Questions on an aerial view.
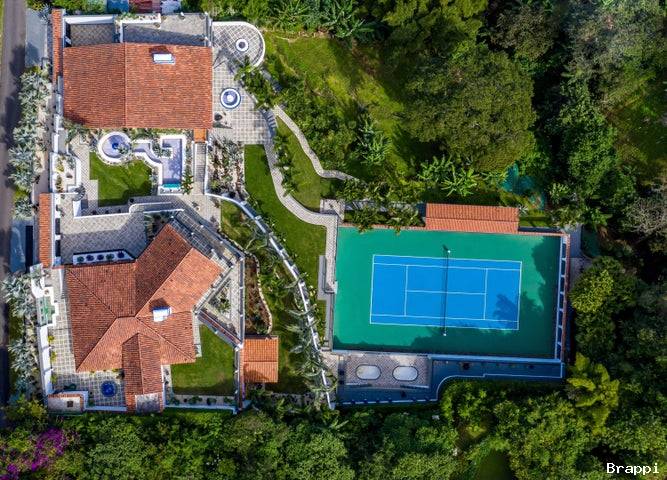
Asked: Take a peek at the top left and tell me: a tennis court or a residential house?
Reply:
residential house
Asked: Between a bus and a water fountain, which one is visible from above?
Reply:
water fountain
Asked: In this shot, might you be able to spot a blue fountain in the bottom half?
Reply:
Yes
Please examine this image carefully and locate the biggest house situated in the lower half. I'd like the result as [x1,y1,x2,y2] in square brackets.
[65,224,223,412]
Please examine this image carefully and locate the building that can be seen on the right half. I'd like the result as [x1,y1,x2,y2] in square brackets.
[425,203,519,234]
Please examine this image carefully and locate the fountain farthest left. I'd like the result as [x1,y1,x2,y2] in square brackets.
[37,286,61,329]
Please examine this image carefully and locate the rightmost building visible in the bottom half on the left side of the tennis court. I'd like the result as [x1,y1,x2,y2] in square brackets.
[244,336,279,384]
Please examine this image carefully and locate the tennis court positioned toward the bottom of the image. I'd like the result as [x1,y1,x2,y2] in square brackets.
[334,227,562,358]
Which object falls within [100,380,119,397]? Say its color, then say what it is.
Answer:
blue fountain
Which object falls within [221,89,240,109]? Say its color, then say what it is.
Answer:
white fountain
